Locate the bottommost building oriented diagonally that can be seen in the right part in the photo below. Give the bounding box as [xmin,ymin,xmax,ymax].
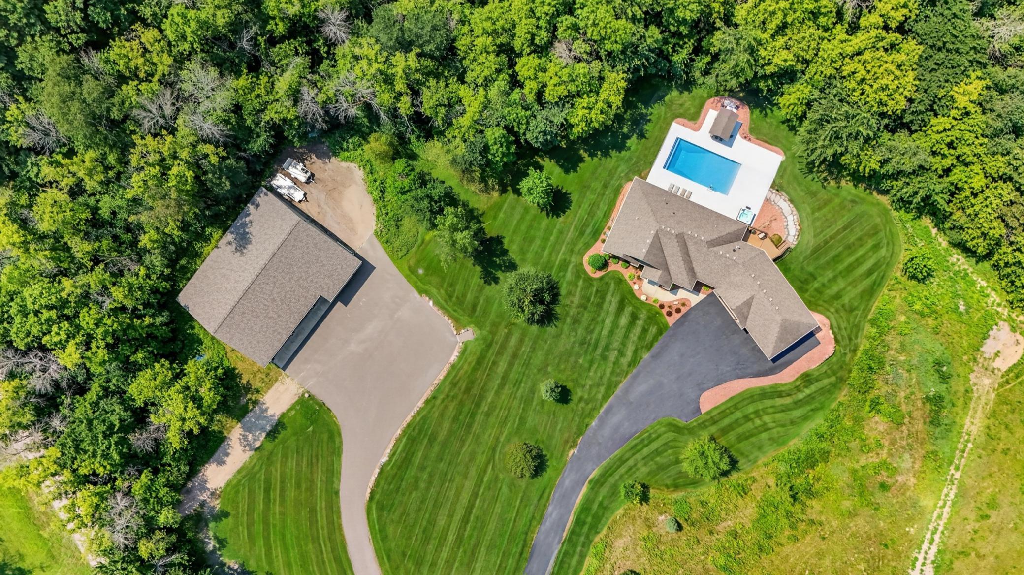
[602,176,819,360]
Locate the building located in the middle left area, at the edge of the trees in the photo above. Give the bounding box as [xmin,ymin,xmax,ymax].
[178,188,362,367]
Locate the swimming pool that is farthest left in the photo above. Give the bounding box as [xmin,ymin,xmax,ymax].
[663,137,741,194]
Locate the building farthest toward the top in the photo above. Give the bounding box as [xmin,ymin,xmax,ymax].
[707,107,739,142]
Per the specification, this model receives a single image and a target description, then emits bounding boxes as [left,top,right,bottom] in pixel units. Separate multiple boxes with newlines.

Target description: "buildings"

[602,176,819,360]
[707,107,739,142]
[178,188,362,367]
